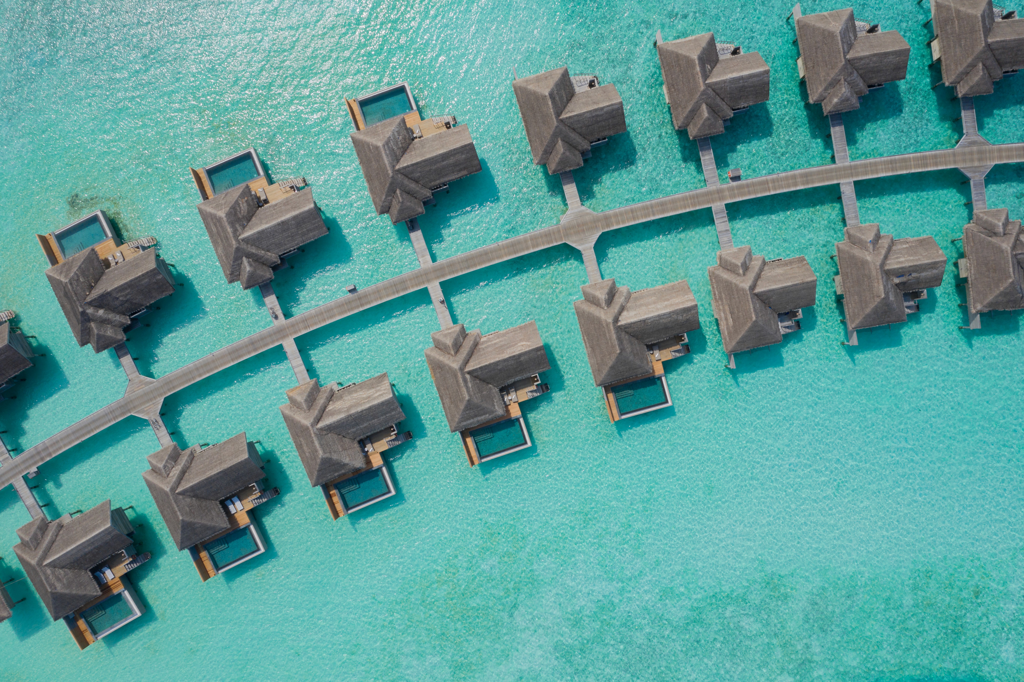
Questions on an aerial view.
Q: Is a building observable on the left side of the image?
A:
Yes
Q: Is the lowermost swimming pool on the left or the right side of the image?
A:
left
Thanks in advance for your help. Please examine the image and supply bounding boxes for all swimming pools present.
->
[611,375,672,419]
[334,452,397,515]
[470,403,531,462]
[203,509,268,575]
[356,81,417,127]
[81,573,148,642]
[50,209,122,260]
[202,147,271,195]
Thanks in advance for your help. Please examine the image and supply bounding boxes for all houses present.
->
[0,308,45,403]
[12,496,155,651]
[828,222,948,345]
[35,233,182,356]
[573,276,700,423]
[786,3,911,117]
[142,429,279,582]
[951,206,1024,329]
[189,168,330,293]
[280,371,411,521]
[919,0,1024,101]
[512,66,626,176]
[653,30,770,141]
[707,245,817,367]
[344,97,482,226]
[424,319,551,467]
